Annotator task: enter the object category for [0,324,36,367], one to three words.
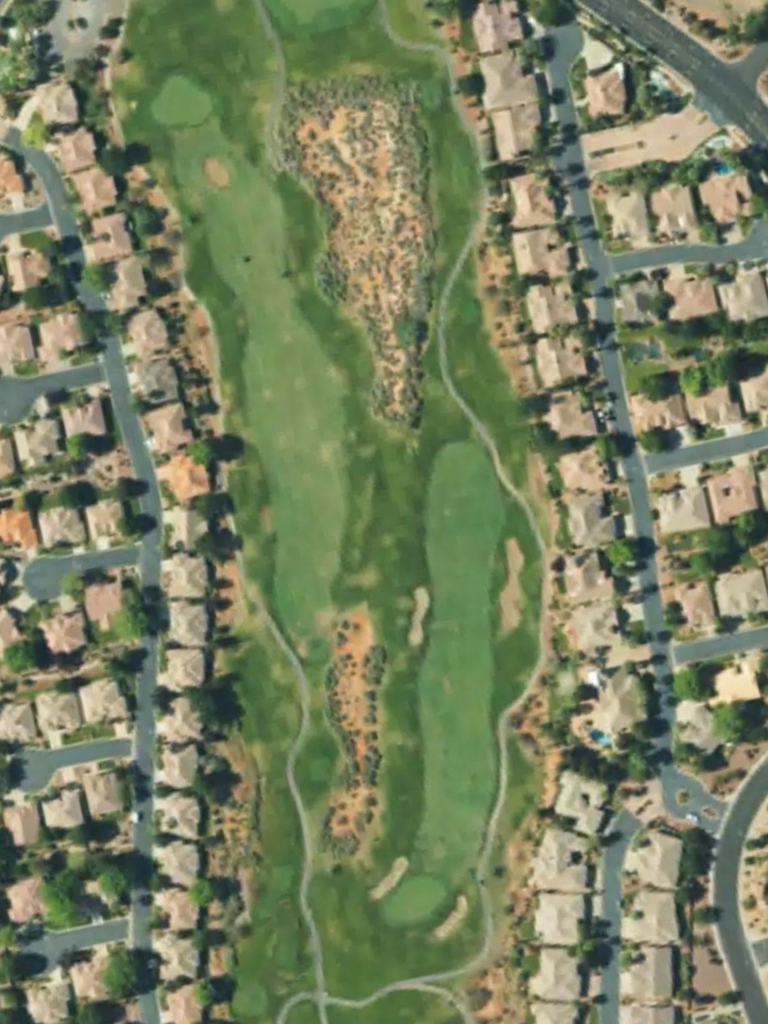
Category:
house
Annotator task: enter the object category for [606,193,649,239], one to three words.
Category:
house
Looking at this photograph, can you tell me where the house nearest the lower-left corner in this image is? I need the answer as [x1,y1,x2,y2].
[27,983,71,1024]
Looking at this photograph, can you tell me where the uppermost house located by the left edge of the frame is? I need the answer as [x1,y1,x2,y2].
[36,80,79,124]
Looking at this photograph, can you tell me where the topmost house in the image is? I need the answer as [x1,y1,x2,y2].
[473,0,521,53]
